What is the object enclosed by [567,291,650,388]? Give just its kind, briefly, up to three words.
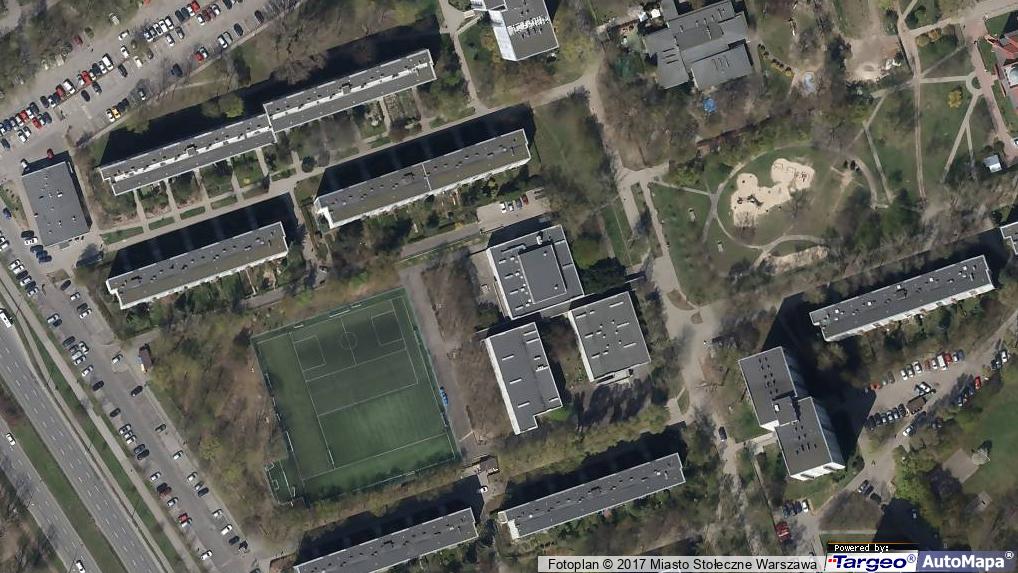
building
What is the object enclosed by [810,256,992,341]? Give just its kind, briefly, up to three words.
building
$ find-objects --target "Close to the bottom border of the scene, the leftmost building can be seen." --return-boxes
[294,508,478,573]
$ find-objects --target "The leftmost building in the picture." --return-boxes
[23,162,90,248]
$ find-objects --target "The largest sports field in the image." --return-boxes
[251,287,461,506]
